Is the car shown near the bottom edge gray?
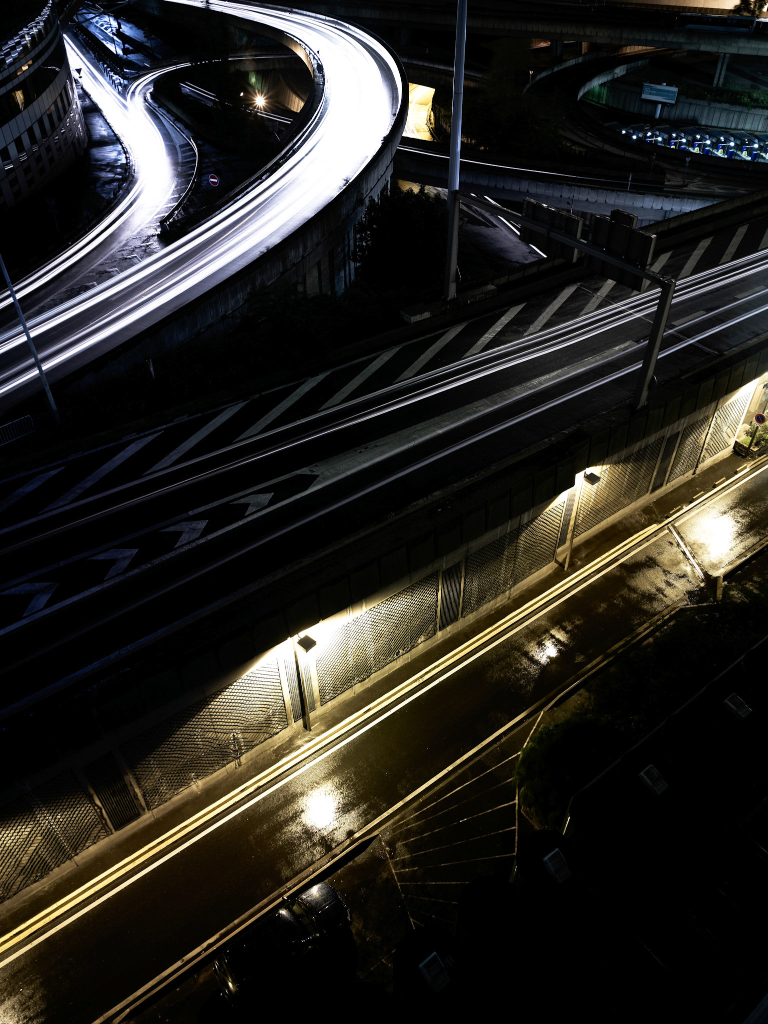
No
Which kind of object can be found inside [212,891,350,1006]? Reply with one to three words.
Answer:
car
